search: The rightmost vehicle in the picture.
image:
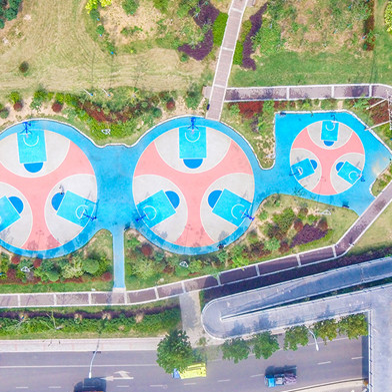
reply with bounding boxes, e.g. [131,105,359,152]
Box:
[263,370,296,388]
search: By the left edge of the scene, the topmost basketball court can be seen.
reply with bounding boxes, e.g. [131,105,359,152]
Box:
[0,129,98,251]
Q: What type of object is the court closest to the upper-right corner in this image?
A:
basketball court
